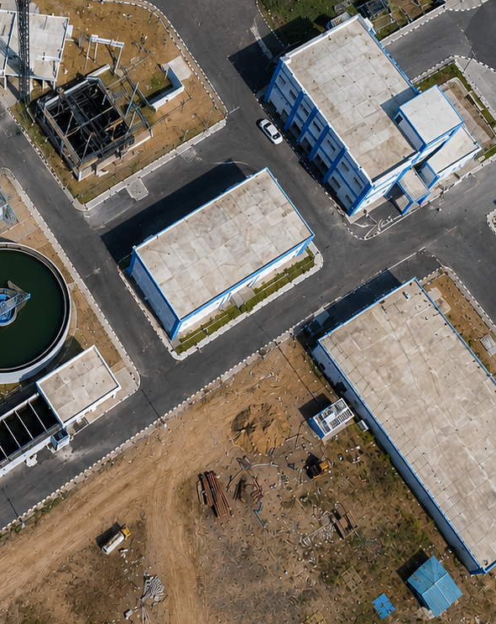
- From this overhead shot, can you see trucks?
Yes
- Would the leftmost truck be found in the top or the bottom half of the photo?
bottom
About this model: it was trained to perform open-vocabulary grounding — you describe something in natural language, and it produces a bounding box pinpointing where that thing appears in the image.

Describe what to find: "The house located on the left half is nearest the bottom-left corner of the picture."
[37,347,122,430]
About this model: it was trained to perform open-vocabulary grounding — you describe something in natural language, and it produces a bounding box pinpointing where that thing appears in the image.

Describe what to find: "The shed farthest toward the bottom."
[401,557,463,617]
